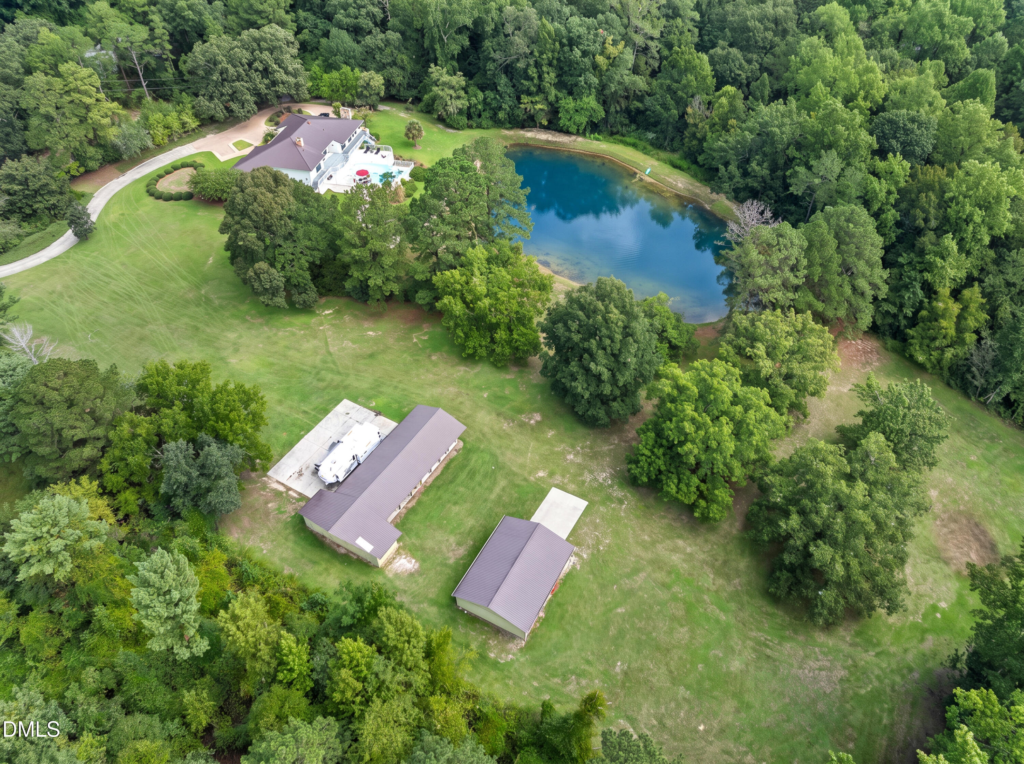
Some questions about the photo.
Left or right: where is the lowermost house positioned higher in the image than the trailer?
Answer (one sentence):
You can find the lowermost house positioned higher in the image than the trailer on the left side of the picture.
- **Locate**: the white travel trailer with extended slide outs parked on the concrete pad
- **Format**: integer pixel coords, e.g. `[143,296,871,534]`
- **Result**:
[319,421,382,490]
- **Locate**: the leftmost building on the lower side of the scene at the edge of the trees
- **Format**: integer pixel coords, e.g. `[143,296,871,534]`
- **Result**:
[297,403,467,567]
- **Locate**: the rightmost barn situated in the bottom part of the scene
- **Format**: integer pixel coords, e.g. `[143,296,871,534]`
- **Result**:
[450,514,576,643]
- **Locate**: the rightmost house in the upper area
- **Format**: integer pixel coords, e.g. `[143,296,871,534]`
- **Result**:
[231,106,386,189]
